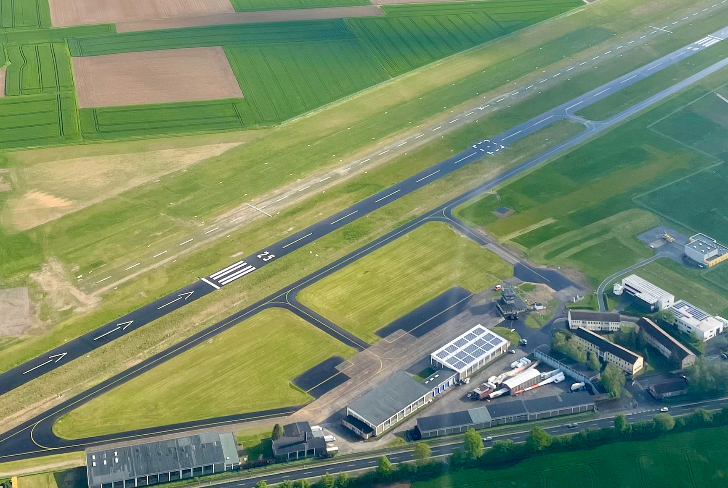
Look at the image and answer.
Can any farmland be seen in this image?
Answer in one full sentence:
Yes, some farmland is visible.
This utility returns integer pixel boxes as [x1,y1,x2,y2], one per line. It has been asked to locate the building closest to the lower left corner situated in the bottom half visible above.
[86,431,238,488]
